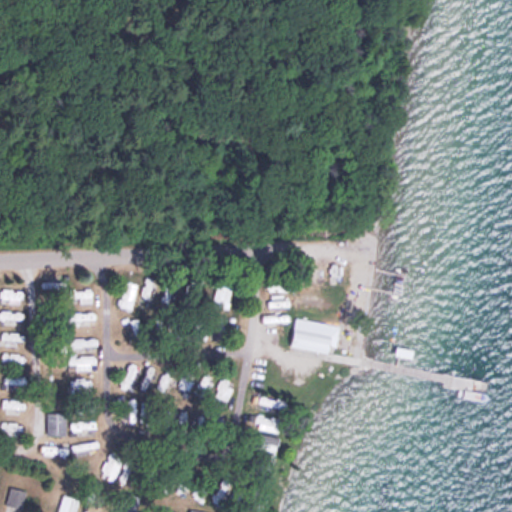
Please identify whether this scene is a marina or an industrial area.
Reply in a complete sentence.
This looks like a marina.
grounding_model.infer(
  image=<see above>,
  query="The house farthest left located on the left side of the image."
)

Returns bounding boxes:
[6,486,28,507]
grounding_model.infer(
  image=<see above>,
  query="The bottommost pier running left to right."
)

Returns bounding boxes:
[361,358,488,392]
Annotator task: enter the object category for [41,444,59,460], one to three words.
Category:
vehicle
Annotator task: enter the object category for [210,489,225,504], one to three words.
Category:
vehicle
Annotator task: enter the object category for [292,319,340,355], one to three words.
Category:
building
